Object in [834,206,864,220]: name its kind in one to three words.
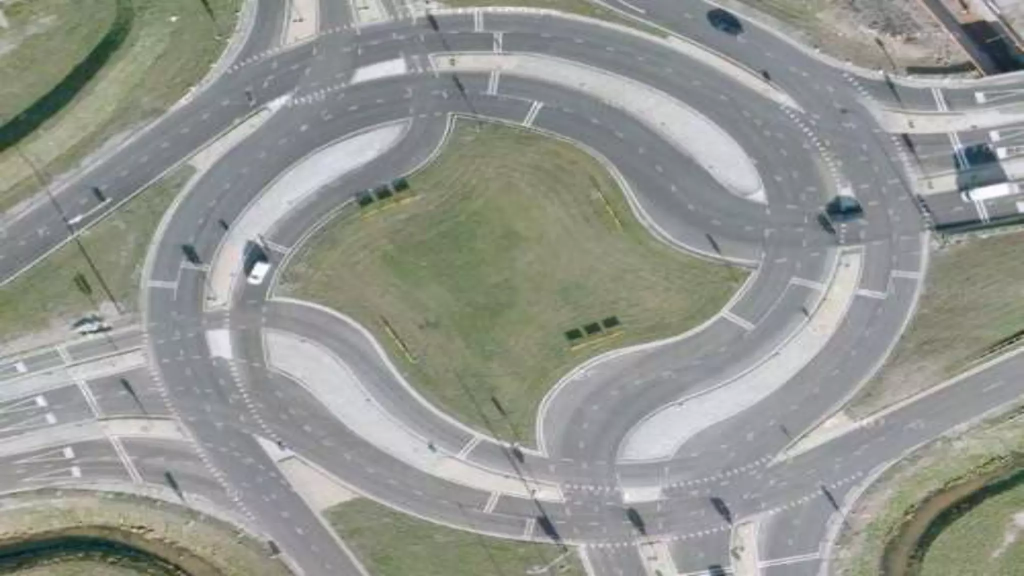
car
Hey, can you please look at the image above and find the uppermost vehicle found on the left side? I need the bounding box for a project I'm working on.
[247,259,268,287]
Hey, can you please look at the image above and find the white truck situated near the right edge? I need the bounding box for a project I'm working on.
[962,181,1022,209]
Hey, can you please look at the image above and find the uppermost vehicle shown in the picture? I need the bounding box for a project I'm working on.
[715,14,743,36]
